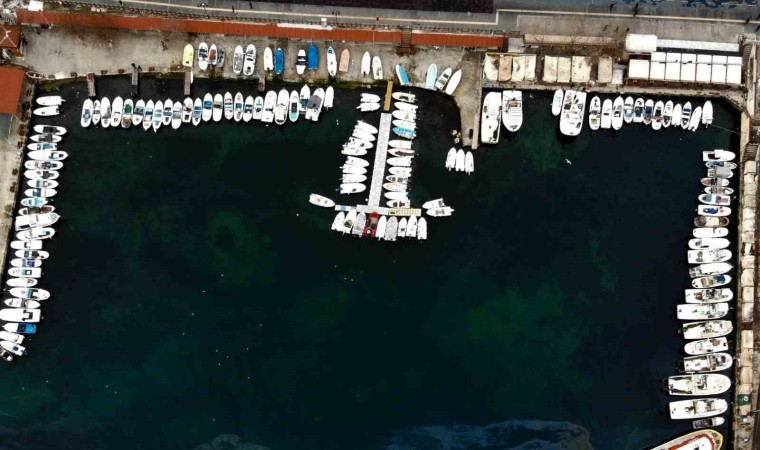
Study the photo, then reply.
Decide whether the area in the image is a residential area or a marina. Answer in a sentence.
The picture captures a marina.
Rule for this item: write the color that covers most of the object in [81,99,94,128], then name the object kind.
white boat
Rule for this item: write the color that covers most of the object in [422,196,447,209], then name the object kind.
white boat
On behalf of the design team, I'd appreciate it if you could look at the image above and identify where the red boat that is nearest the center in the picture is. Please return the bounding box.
[364,212,379,238]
